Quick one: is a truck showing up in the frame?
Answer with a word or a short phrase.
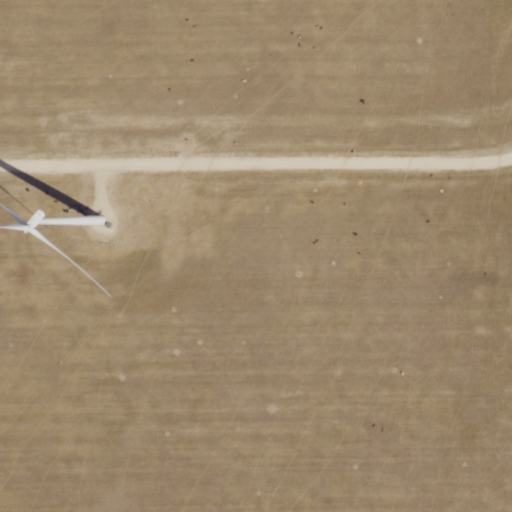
No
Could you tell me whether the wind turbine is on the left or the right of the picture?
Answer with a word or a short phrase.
left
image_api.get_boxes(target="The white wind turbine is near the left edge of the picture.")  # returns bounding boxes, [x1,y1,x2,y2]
[0,204,110,295]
